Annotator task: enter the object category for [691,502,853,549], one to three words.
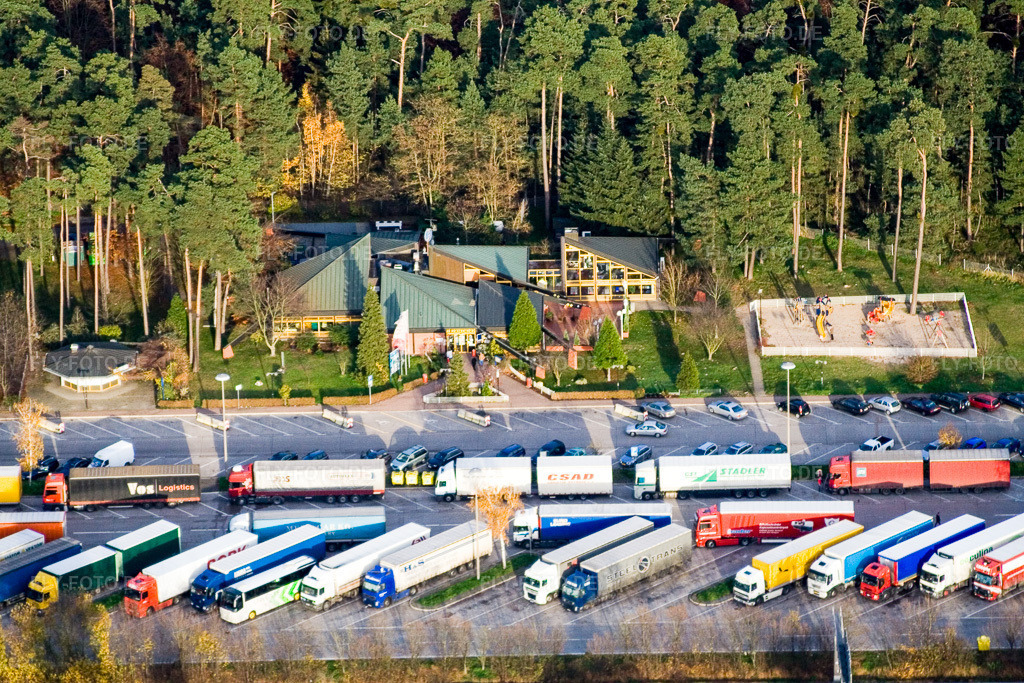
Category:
truck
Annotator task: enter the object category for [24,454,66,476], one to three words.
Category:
car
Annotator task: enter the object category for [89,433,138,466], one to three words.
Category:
van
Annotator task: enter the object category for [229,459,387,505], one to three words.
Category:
truck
